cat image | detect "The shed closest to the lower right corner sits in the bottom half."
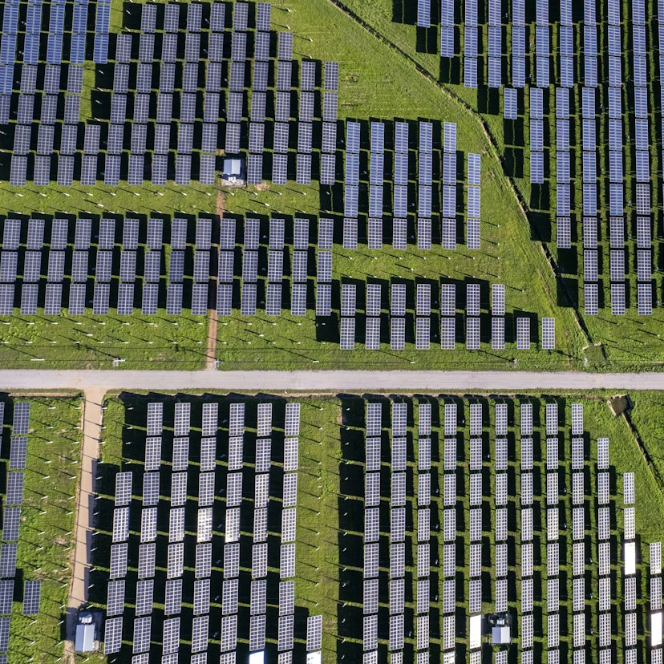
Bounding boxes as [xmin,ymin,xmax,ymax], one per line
[491,623,509,645]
